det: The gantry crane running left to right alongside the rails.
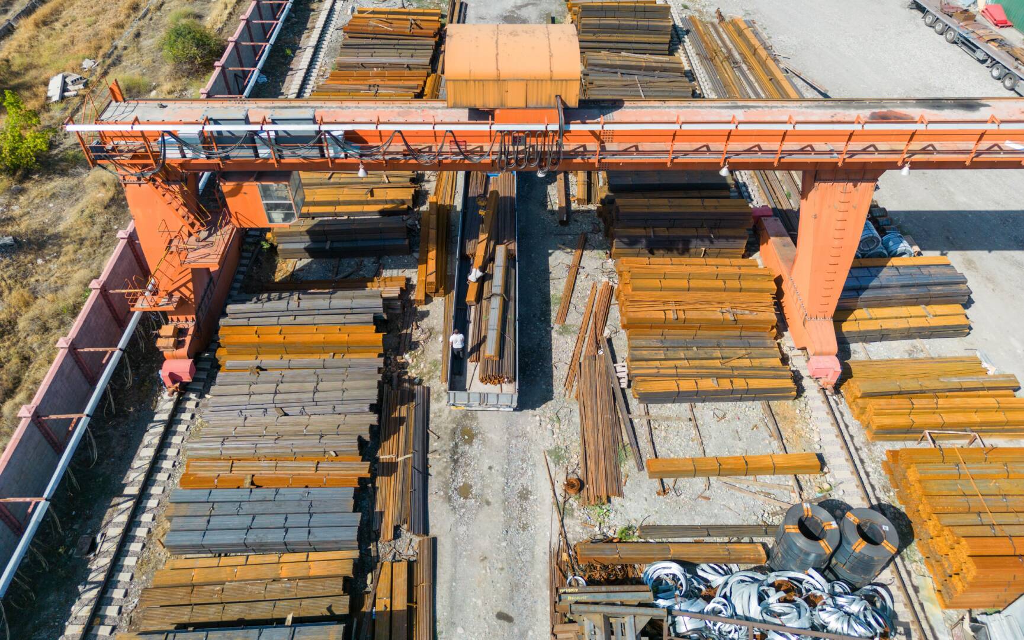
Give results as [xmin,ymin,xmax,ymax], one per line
[58,69,1024,394]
